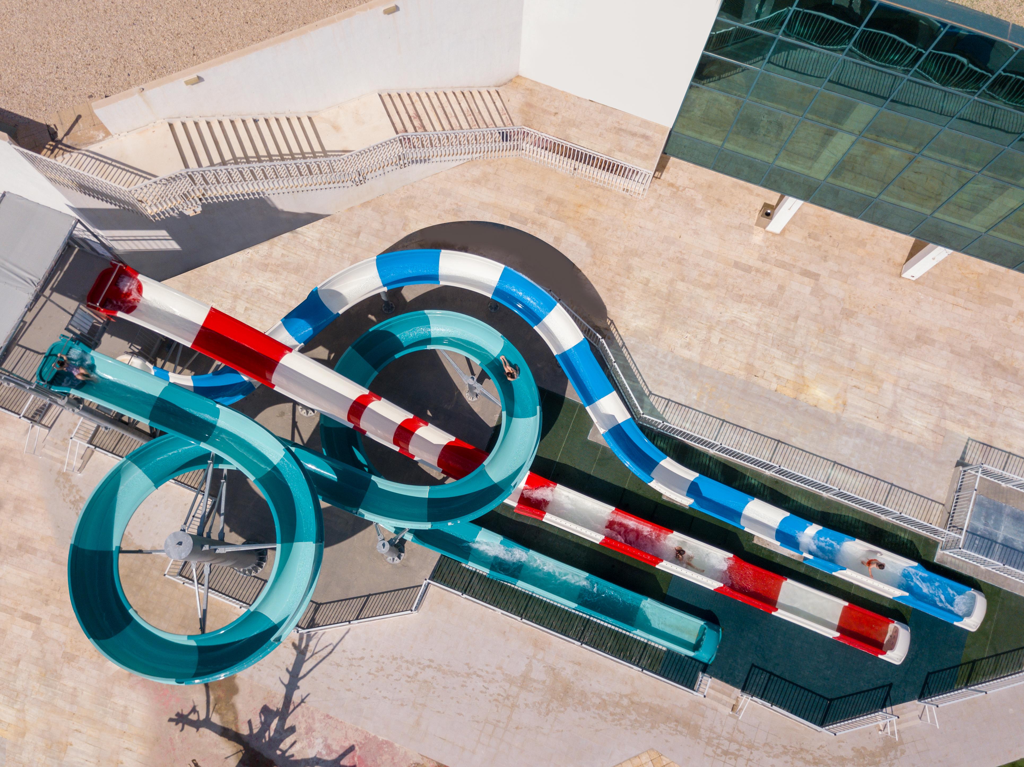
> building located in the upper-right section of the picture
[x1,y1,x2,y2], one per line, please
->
[518,0,1024,282]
